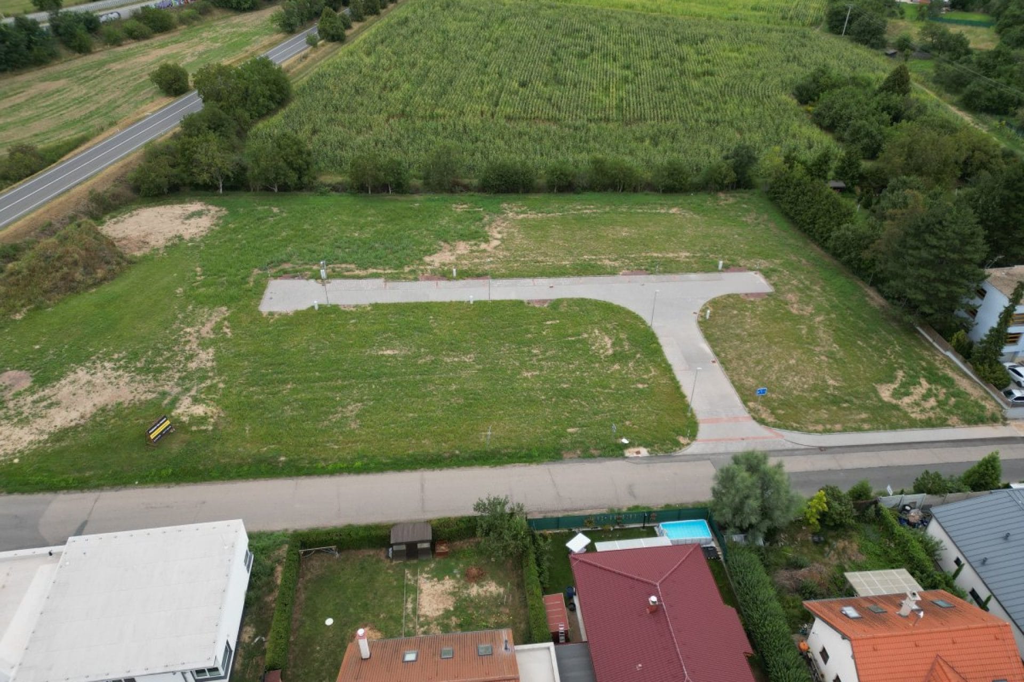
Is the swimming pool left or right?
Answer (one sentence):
The swimming pool sits on the right side.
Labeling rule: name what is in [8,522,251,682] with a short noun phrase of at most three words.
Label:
building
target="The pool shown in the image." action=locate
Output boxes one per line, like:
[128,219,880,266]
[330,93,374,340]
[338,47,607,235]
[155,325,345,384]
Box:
[657,520,711,549]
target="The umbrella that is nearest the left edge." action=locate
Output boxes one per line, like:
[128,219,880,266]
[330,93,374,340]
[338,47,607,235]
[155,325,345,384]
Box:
[564,533,592,554]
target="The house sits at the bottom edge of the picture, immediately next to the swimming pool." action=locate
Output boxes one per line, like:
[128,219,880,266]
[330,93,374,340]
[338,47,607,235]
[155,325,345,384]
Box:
[569,543,751,682]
